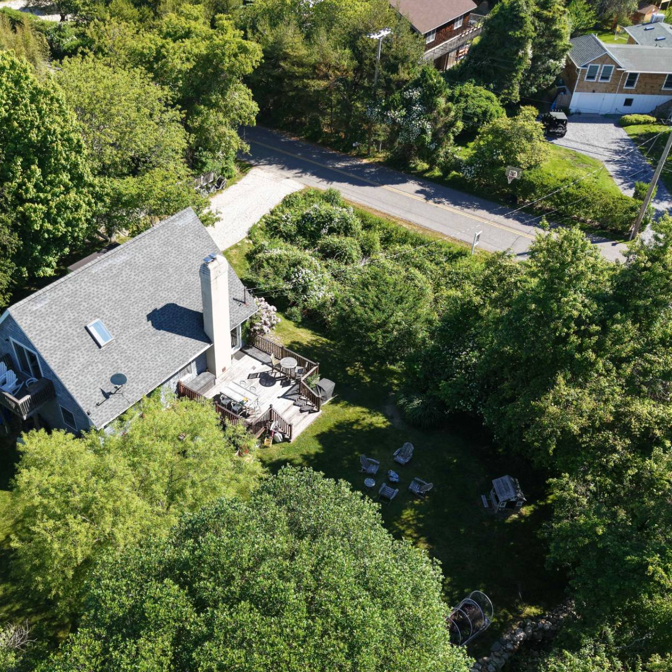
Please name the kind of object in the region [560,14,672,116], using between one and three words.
house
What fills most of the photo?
trees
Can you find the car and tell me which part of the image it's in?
top right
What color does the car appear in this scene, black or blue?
black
